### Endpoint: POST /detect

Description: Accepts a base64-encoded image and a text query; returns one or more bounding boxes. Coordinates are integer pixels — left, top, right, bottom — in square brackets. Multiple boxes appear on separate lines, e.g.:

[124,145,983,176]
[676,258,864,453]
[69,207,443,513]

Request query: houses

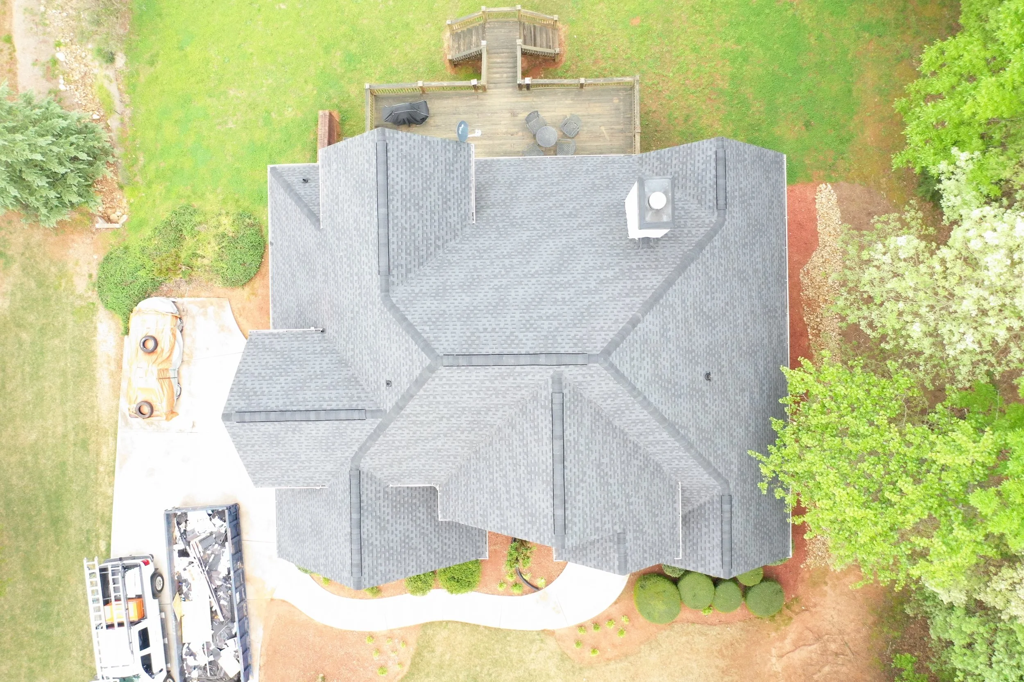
[222,127,793,591]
